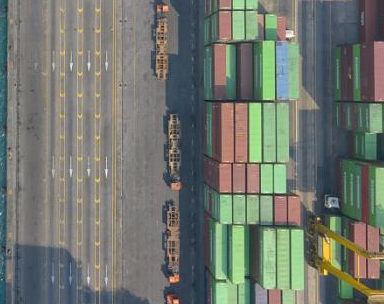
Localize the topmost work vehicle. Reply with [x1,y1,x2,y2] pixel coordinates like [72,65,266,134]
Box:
[155,3,170,26]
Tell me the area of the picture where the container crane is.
bottom right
